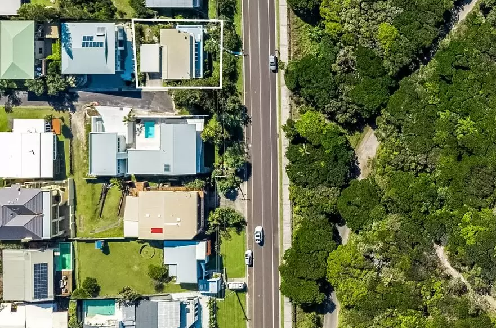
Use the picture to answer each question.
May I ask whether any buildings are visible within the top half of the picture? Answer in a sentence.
Yes, within the top half of the picture there is a building.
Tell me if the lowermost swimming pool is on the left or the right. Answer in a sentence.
It is on the left.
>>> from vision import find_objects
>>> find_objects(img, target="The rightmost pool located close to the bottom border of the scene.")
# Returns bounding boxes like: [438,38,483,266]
[85,298,117,319]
